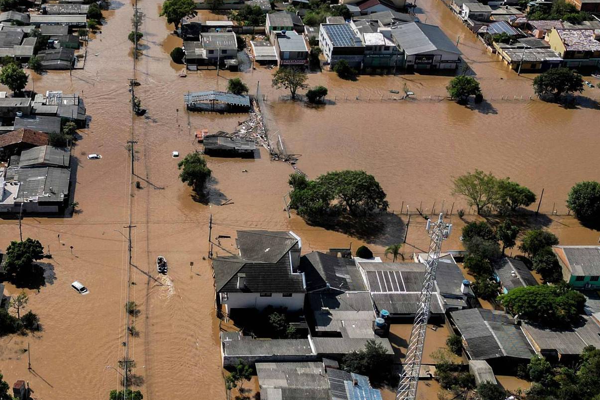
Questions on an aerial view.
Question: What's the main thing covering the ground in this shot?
water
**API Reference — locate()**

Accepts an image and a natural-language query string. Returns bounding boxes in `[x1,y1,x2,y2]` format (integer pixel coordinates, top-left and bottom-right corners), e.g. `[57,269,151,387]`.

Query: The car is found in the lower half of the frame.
[71,282,90,297]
